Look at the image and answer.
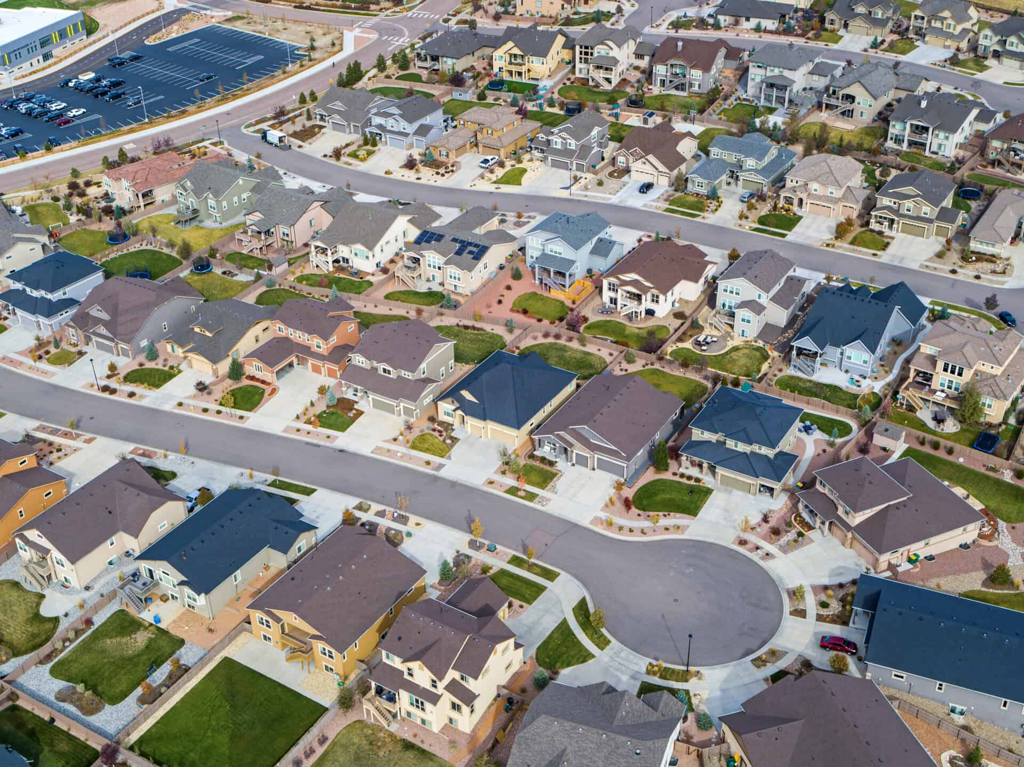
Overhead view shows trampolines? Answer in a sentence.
Yes, the picture does show a trampoline.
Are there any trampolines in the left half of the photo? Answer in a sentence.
Yes, looking in the left half of the photo, one can make out a trampoline.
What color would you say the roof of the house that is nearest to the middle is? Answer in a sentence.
The roof of the house that is nearest to the middle is blue.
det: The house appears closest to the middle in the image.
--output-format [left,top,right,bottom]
[435,350,581,445]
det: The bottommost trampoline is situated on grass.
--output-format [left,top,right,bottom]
[966,432,1009,454]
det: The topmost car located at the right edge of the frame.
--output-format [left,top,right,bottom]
[996,306,1020,325]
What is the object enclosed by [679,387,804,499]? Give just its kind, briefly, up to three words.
house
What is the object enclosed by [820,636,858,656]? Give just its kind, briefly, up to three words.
car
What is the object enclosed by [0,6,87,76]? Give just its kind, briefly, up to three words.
building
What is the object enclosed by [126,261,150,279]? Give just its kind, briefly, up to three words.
trampoline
